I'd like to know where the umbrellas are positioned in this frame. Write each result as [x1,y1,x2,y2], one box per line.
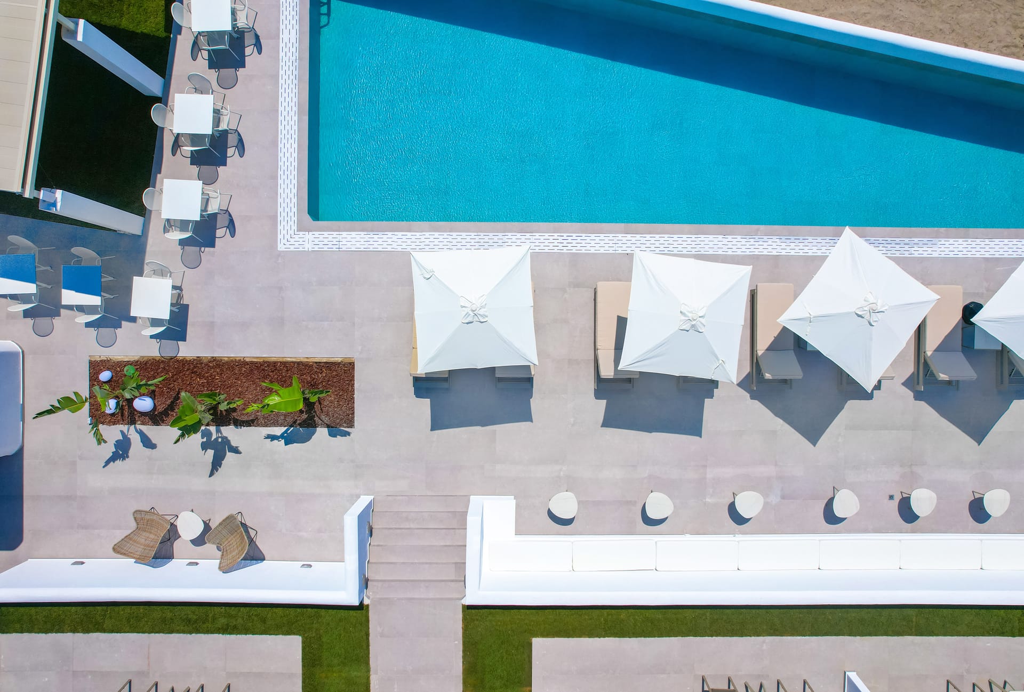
[961,249,1024,361]
[778,227,940,392]
[618,251,752,384]
[411,245,538,372]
